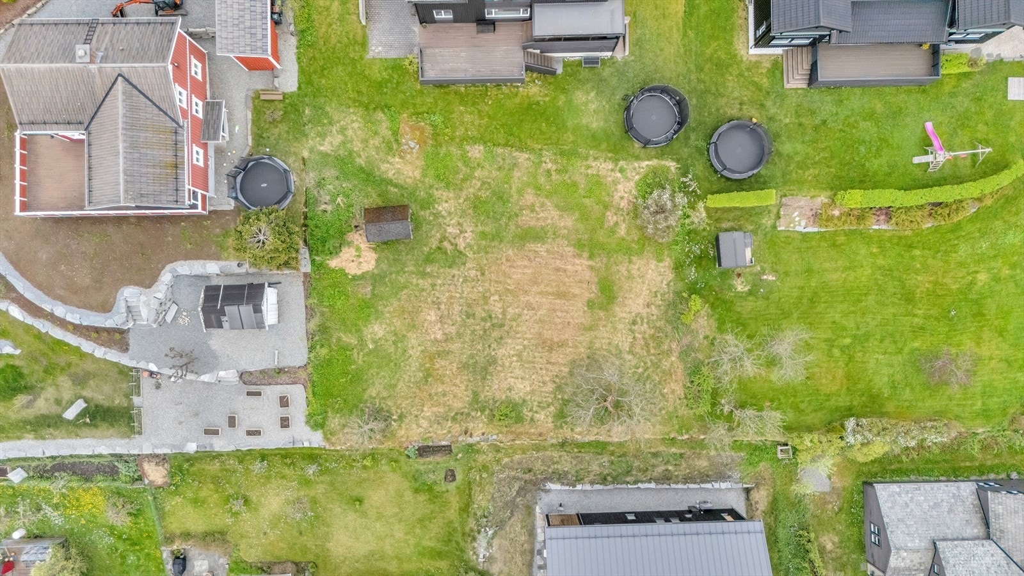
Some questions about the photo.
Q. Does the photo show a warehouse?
No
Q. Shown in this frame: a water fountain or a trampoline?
trampoline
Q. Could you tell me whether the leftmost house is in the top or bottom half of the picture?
top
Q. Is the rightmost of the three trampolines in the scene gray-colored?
Yes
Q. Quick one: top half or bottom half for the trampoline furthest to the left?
top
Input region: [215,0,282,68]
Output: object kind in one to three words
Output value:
building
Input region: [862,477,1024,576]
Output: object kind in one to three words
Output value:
house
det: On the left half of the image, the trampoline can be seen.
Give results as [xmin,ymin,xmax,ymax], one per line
[224,152,295,216]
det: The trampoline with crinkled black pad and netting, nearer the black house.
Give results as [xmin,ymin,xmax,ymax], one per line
[621,81,690,149]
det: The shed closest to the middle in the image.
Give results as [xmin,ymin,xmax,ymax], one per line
[364,204,416,243]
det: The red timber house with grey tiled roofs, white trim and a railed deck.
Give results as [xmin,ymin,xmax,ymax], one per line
[0,16,234,218]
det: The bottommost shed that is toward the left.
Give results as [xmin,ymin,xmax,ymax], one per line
[199,281,280,330]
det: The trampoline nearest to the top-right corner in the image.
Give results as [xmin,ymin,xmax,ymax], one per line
[706,113,782,181]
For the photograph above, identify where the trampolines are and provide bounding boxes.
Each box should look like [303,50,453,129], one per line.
[621,81,690,149]
[224,152,295,216]
[706,113,782,181]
